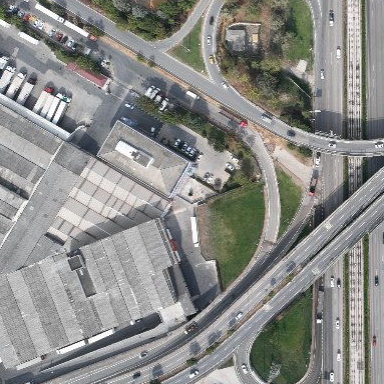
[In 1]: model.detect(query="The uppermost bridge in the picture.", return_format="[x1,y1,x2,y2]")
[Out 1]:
[289,128,384,158]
